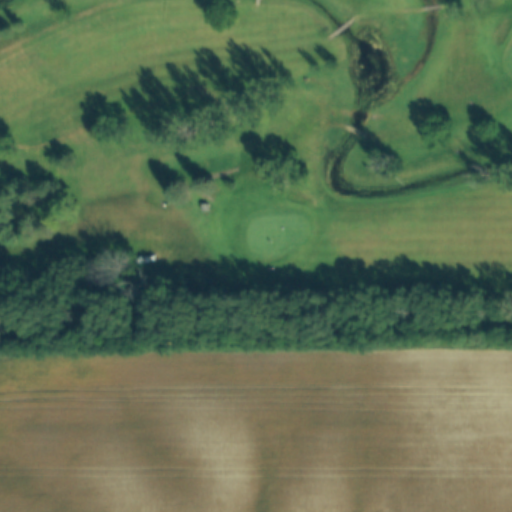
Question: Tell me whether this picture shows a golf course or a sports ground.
golf course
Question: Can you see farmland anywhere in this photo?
Yes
